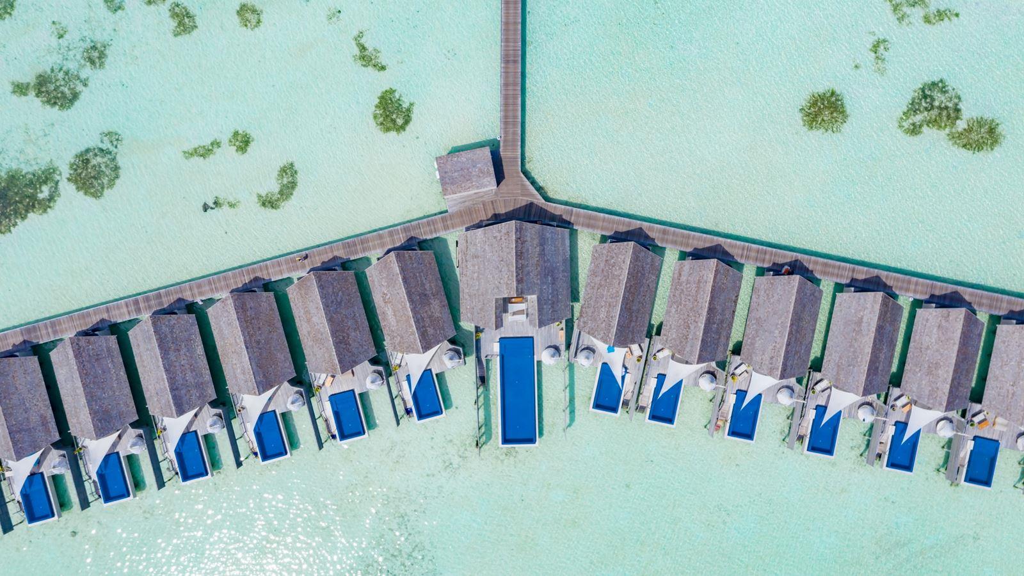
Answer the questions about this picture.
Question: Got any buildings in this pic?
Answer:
Yes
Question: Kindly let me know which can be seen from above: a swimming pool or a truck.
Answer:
swimming pool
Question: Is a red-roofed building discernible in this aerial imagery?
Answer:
No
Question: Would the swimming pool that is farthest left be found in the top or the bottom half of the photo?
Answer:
bottom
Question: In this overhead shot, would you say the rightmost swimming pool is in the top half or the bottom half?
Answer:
bottom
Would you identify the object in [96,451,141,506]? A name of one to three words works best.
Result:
swimming pool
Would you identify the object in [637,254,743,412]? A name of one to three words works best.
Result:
house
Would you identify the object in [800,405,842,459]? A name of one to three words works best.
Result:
swimming pool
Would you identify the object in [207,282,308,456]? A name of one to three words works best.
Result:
house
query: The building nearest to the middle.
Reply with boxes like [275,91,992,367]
[457,220,571,381]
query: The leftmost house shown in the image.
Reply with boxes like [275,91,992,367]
[0,344,82,515]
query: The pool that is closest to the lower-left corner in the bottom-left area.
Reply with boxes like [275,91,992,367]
[17,471,64,526]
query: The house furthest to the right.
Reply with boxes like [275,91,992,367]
[957,316,1024,468]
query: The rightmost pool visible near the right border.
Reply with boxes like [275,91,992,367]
[955,436,999,490]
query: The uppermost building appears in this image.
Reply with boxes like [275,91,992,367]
[433,146,497,199]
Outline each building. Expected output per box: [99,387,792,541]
[957,316,1024,468]
[433,146,497,199]
[207,282,308,456]
[128,303,229,477]
[51,324,158,497]
[637,254,743,412]
[572,236,662,408]
[716,269,823,429]
[287,262,386,436]
[457,220,571,381]
[876,300,984,461]
[0,344,82,515]
[366,242,465,416]
[796,285,904,446]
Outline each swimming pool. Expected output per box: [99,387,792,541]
[17,471,64,526]
[877,420,920,474]
[494,336,538,447]
[800,405,842,459]
[247,409,294,464]
[326,389,372,444]
[721,389,763,443]
[403,369,448,424]
[591,362,634,416]
[173,430,217,485]
[955,436,999,490]
[644,374,684,428]
[96,451,141,506]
